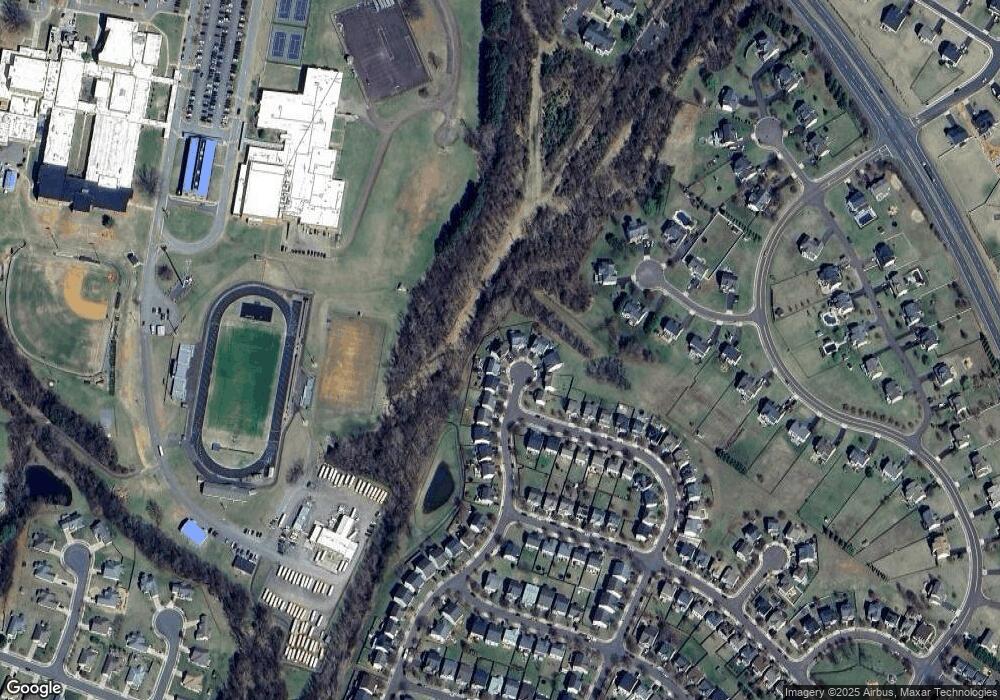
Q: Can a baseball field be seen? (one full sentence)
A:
Yes, you can see a baseball field in this photo.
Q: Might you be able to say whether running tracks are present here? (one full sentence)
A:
Yes, the frame does contain a running track.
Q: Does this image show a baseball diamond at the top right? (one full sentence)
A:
No, at the top right there is no baseball diamond.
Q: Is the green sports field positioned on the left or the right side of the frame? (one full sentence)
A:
It is on the left.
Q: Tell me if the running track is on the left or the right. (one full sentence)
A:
It is on the left.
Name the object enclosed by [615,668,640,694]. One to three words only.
house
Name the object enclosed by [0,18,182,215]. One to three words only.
building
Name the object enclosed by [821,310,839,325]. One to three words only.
swimming pool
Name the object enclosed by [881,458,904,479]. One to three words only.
house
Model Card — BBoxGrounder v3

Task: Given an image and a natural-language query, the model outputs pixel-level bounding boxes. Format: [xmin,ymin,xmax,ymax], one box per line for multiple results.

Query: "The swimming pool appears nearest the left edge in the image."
[674,209,695,227]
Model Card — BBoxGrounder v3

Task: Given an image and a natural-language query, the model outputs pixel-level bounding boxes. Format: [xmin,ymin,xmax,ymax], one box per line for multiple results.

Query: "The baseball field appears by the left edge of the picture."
[8,244,116,375]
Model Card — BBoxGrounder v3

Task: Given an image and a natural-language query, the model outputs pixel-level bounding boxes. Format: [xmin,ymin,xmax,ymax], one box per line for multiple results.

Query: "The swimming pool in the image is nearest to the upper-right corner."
[856,210,876,225]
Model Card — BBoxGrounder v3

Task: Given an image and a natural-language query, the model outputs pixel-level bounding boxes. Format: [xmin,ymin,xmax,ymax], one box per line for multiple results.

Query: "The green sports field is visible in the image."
[207,326,282,434]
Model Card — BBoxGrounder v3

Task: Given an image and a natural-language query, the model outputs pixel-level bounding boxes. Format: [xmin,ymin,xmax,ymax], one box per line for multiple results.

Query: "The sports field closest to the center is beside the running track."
[317,315,388,416]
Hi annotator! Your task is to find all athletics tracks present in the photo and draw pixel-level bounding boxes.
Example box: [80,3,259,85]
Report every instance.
[192,281,295,478]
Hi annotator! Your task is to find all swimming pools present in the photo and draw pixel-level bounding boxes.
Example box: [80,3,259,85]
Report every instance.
[820,342,839,354]
[821,310,839,325]
[856,210,876,225]
[674,209,695,227]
